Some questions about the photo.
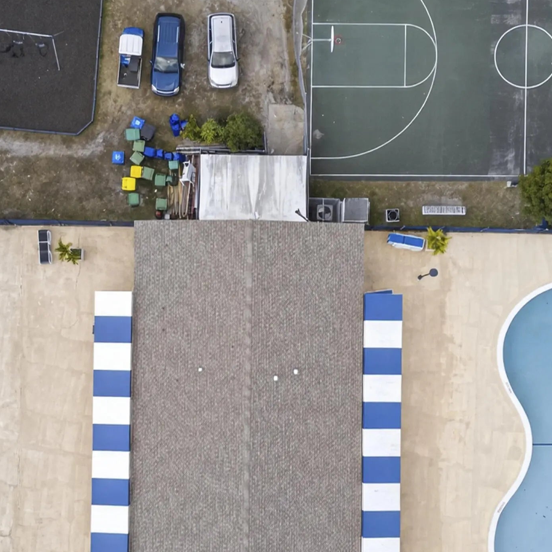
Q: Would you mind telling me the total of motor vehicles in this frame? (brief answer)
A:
three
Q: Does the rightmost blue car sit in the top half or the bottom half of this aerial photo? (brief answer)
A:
top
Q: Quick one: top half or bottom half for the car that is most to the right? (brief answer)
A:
top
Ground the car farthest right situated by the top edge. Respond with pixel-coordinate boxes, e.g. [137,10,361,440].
[205,11,242,90]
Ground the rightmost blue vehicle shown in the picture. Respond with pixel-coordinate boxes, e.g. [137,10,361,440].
[147,9,186,97]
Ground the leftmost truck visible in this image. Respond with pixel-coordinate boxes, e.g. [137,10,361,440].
[115,25,147,91]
